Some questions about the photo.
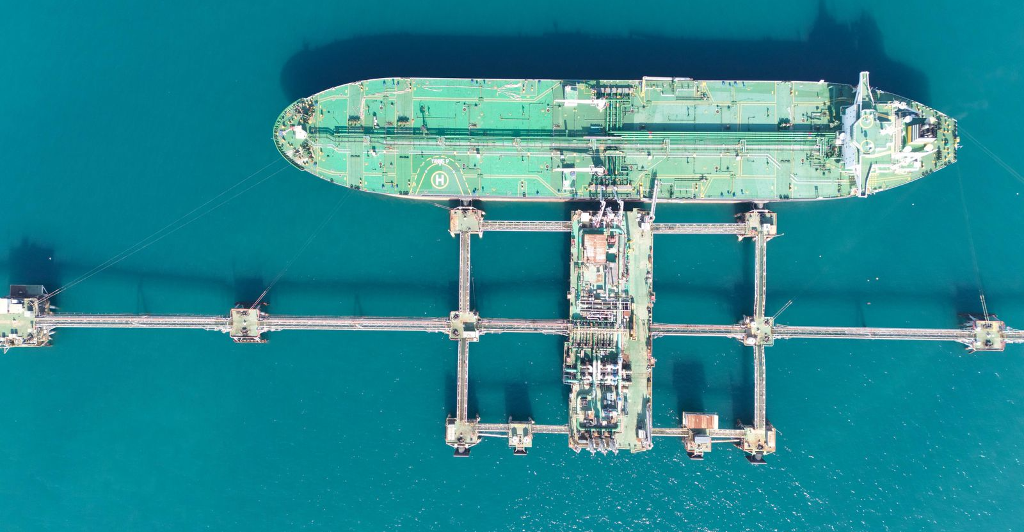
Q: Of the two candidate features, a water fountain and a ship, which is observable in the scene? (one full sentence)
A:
It is a ship that can be seen here.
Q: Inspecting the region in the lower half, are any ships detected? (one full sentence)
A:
No, I can find no ship in the lower half.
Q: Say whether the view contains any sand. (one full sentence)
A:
No, the scene doesn't show any sand.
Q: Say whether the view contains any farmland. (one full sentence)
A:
No, there is no farmland in the image.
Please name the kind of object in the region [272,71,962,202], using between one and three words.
ship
